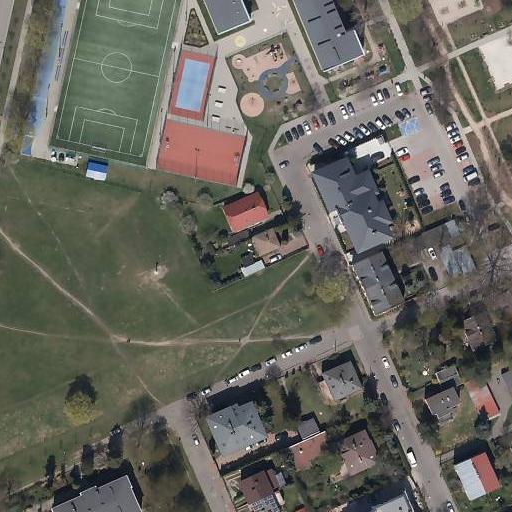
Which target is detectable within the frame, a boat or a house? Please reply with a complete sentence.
The image shows a house.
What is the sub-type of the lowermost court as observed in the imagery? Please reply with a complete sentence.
It looks like the lowermost court is a basketball court.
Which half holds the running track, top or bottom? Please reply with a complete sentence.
You can find the running track in the top half.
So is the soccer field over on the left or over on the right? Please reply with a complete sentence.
You can find the soccer field on the left side of the picture.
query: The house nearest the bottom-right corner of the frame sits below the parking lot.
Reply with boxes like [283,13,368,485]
[454,451,500,500]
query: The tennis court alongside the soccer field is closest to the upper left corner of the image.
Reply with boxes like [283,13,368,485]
[169,51,216,122]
